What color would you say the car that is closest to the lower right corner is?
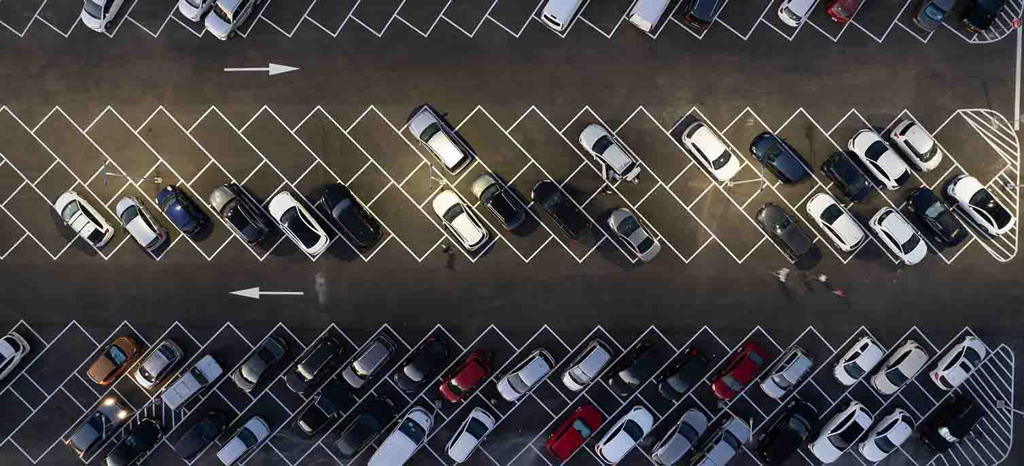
black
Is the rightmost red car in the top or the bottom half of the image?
top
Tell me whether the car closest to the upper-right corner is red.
No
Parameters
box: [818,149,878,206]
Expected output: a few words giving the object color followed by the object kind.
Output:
black car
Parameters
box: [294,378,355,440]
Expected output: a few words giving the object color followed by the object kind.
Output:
black truck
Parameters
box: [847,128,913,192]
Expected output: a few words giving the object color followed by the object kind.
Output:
white car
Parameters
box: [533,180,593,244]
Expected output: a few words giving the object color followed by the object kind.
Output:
black car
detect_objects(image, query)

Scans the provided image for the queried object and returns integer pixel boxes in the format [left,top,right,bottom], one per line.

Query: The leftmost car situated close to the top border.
[83,0,131,34]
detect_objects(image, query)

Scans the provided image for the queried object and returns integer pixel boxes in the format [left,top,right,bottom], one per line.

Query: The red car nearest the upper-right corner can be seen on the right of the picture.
[827,0,869,26]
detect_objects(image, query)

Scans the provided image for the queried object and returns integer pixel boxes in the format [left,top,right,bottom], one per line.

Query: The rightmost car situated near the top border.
[961,0,1011,36]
